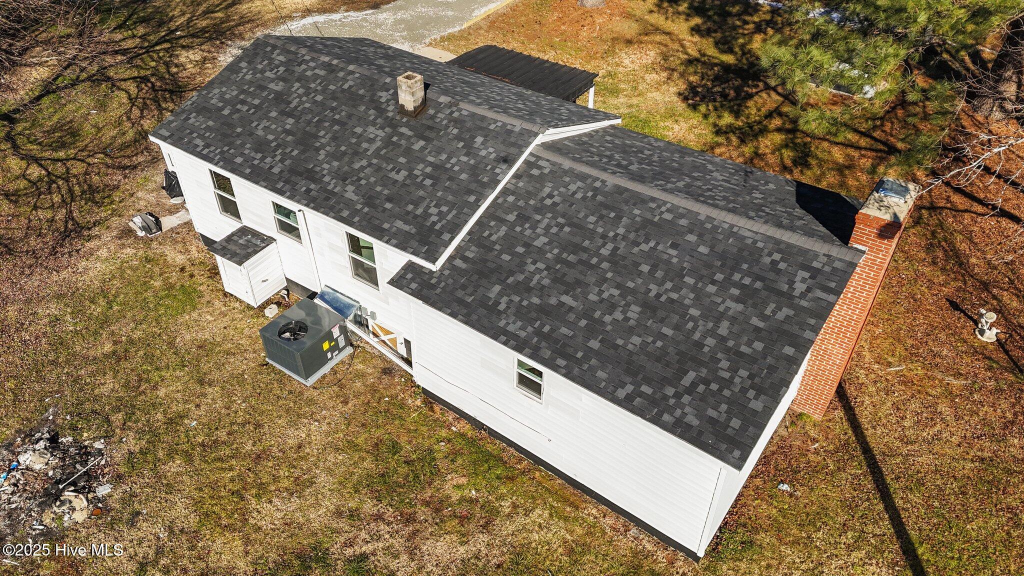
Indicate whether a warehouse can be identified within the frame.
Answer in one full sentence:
No, no warehouse is visible in the scene.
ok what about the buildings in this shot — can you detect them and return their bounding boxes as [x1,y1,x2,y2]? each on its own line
[155,34,926,558]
